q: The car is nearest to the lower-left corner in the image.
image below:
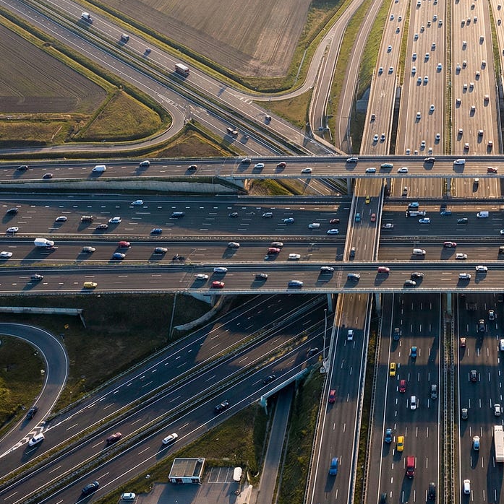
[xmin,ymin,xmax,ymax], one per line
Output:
[28,433,45,446]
